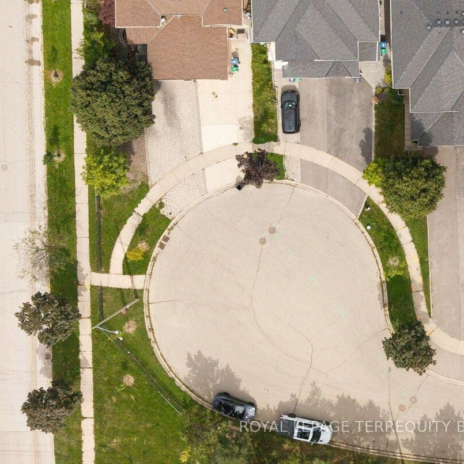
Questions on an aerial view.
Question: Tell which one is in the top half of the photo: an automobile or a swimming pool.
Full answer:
The feature located in the top half of the photo is an automobile.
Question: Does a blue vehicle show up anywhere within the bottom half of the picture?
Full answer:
No, I can find no blue vehicle within the bottom half of the picture.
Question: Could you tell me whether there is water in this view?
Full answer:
No, no water is visible.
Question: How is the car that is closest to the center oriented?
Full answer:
Seen from above, the car that is closest to the center lies vertically.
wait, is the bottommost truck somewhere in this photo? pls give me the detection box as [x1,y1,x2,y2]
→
[277,415,334,445]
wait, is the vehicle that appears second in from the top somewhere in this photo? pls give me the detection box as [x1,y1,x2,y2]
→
[213,391,259,419]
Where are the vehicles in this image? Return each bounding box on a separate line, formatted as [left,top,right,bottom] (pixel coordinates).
[213,391,259,419]
[277,415,334,445]
[279,90,300,134]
